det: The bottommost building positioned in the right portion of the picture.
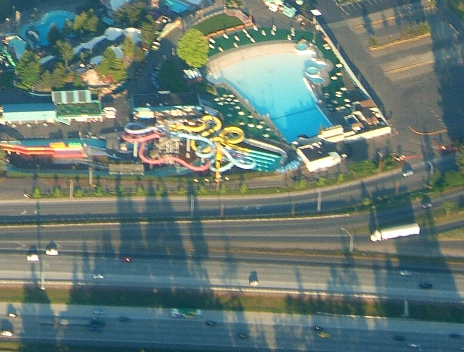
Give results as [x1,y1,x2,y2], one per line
[293,138,345,173]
